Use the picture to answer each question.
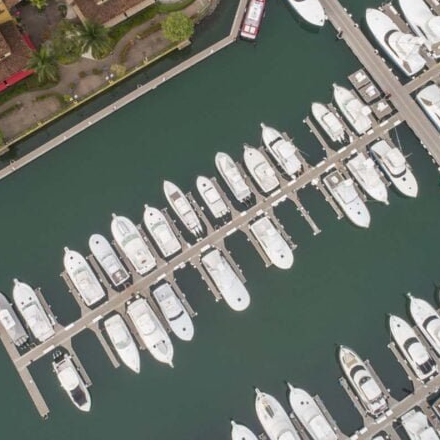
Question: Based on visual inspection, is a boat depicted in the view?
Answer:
Yes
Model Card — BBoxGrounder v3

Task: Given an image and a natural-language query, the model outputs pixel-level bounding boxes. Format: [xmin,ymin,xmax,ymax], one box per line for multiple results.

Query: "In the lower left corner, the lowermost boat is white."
[52,352,90,414]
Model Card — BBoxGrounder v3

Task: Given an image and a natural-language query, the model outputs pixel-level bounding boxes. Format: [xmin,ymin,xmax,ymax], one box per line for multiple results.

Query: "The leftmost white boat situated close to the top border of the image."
[240,0,264,40]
